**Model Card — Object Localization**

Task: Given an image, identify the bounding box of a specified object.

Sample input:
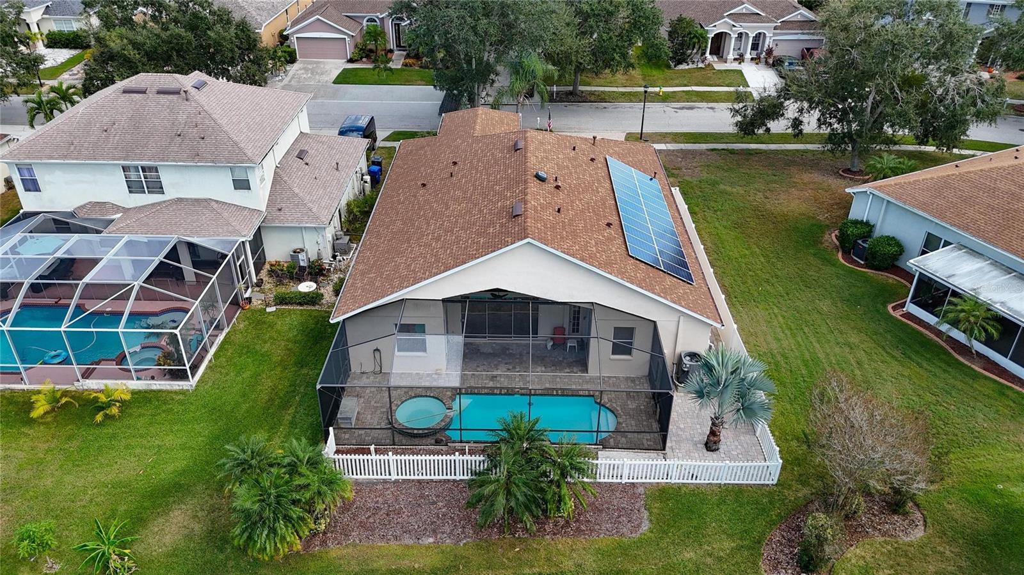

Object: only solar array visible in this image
[607,153,699,282]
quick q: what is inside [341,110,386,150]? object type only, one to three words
car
